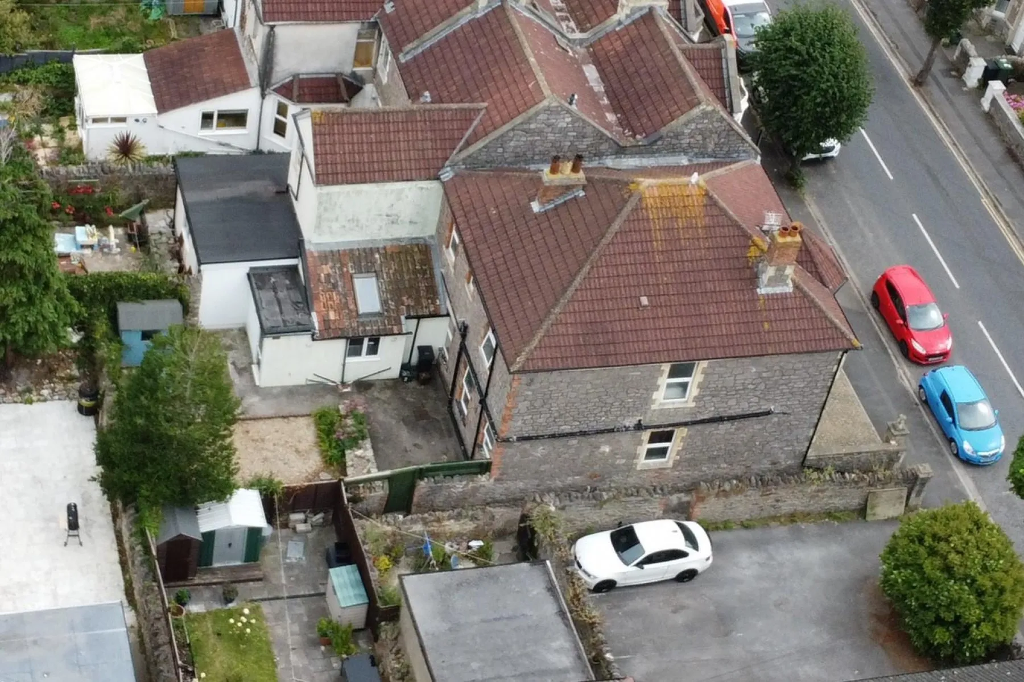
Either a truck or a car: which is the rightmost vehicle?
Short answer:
car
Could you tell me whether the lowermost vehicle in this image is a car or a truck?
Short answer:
car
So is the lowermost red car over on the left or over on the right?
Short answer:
right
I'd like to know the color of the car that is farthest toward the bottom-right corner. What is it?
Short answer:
blue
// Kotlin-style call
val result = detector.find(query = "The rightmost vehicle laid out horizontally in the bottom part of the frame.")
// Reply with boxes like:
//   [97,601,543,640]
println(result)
[571,517,715,590]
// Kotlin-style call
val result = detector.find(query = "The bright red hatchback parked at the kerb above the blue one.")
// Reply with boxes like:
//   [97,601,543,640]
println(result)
[874,273,958,365]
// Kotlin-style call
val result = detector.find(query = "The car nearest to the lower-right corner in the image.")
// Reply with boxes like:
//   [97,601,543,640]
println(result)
[920,364,1011,466]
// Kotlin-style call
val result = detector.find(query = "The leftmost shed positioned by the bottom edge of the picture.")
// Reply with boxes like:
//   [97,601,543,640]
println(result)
[0,598,139,682]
